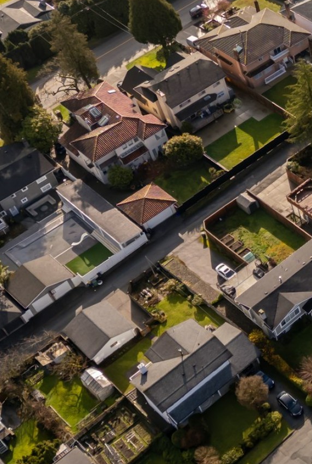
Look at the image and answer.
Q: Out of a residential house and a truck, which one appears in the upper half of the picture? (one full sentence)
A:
There is a residential house in the upper half of the picture.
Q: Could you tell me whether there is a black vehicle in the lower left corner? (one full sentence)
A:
No, there's no black vehicle to be seen in the lower left corner.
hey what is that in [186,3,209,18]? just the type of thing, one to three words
car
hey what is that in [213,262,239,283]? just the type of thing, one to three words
car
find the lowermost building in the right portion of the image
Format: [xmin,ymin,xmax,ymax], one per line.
[127,316,262,434]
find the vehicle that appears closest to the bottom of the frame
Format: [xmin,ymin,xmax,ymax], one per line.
[276,392,306,418]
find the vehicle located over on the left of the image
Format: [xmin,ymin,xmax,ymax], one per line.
[108,74,132,92]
